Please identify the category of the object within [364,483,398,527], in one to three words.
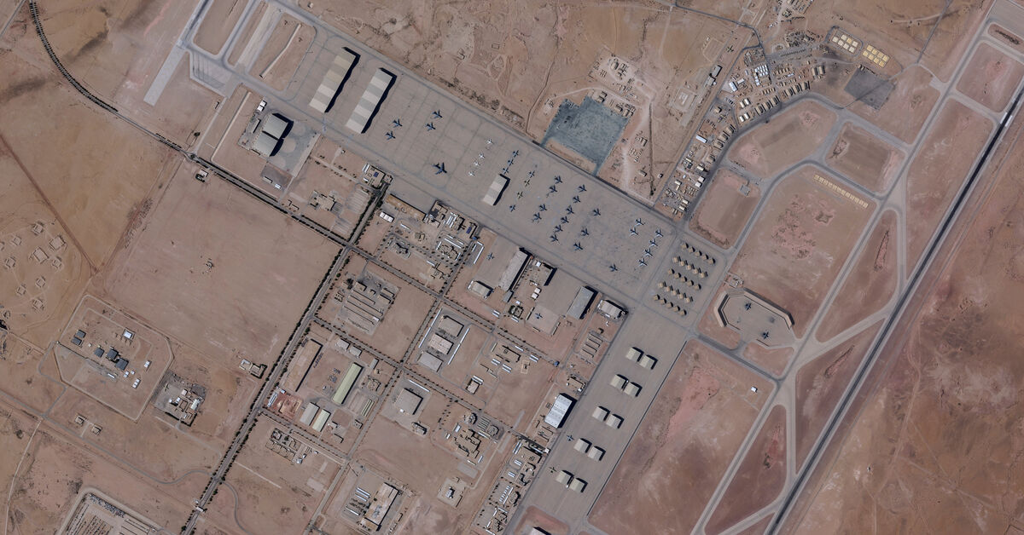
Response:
building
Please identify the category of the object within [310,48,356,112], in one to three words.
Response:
hangar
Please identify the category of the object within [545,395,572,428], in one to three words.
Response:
hangar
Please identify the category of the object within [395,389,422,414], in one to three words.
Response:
building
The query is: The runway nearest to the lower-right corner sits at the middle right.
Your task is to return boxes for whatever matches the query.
[762,77,1024,535]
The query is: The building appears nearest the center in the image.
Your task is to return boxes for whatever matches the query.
[499,250,528,290]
